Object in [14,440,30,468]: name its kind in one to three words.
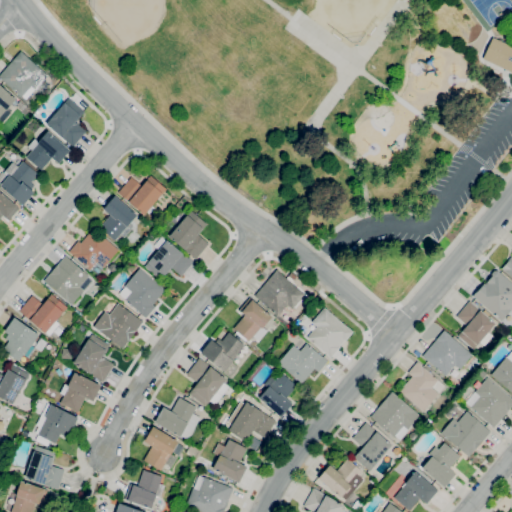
swimming pool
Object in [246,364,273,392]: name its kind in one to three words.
swimming pool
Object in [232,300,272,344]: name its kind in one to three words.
house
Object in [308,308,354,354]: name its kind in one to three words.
house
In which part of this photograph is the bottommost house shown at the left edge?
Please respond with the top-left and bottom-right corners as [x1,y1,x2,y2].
[10,482,48,512]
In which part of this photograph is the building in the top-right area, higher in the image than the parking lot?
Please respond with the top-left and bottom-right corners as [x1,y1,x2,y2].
[484,38,512,68]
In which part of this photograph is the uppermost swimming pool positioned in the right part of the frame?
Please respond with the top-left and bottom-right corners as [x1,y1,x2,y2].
[488,344,512,368]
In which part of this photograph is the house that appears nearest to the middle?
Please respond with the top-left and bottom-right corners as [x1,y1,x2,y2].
[255,270,303,317]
